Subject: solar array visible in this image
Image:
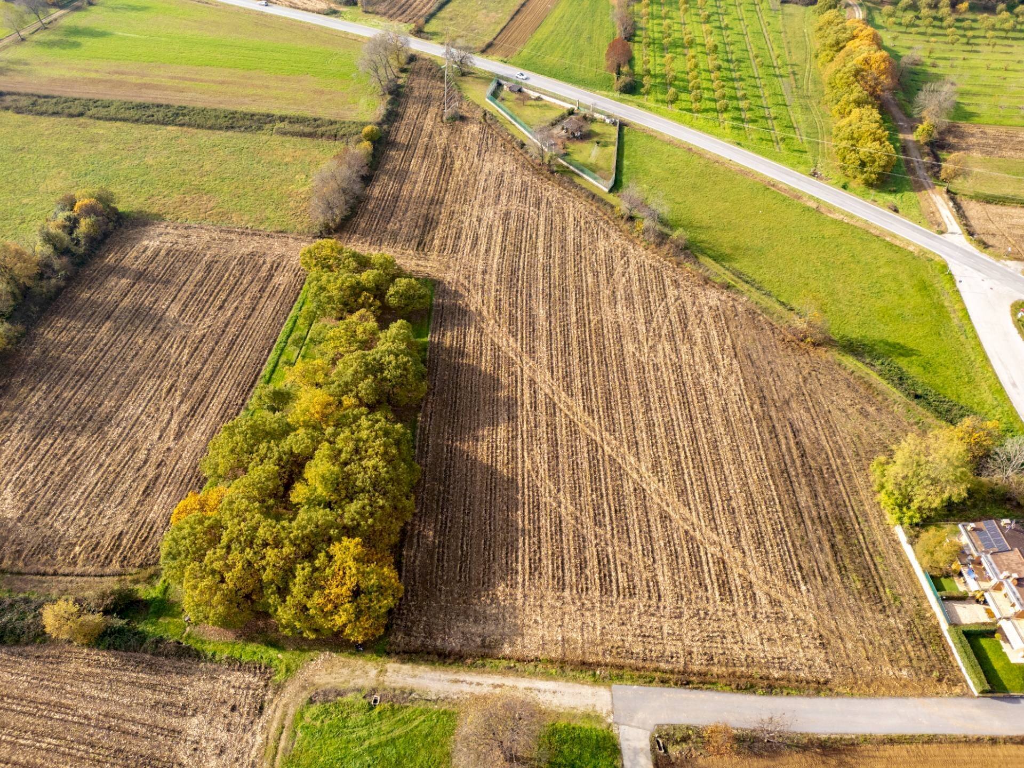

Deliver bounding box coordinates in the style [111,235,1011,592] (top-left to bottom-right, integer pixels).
[978,520,1008,550]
